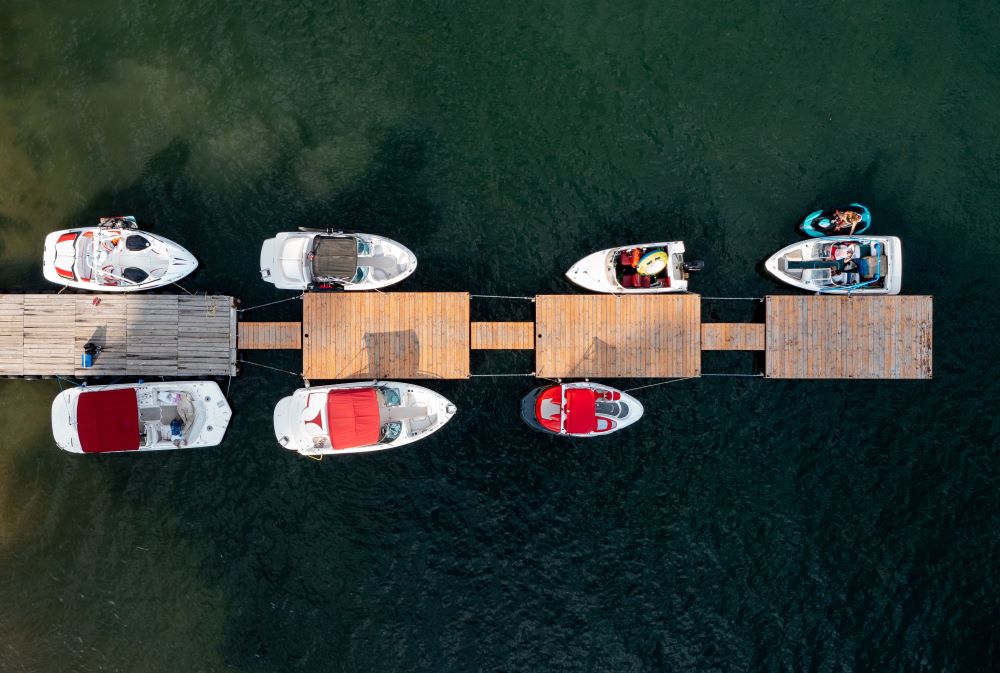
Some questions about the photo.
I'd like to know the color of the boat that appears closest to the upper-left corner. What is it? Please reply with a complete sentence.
The boat that appears closest to the upper-left corner looks white in the image.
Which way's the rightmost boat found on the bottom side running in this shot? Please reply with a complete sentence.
The rightmost boat found on the bottom side runs from left to right in the image.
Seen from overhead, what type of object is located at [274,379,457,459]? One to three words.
boat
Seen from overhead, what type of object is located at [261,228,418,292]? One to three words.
boat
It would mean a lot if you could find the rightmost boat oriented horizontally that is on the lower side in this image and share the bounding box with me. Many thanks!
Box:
[520,378,645,438]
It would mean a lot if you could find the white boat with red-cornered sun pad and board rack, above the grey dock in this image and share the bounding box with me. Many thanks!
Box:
[44,216,198,292]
